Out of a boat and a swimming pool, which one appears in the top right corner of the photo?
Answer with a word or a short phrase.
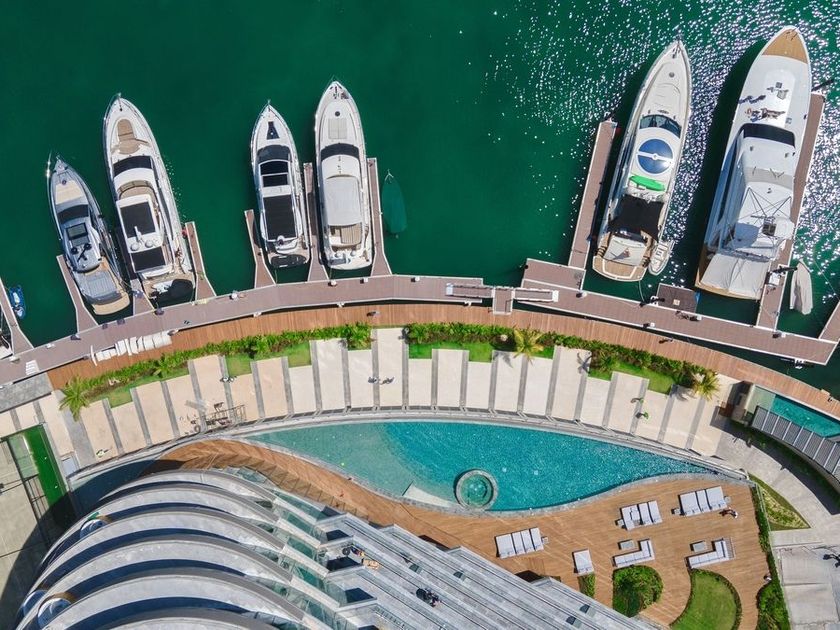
boat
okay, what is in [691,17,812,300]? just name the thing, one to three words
boat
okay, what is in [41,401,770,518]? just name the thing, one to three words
swimming pool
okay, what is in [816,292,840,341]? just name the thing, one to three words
pier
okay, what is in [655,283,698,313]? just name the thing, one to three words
pier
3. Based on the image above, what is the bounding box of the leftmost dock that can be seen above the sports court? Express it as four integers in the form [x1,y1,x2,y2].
[0,264,38,354]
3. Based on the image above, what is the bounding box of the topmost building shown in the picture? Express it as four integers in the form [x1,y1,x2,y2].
[718,382,754,427]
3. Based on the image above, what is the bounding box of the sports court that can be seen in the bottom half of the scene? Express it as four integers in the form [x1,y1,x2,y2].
[0,425,75,562]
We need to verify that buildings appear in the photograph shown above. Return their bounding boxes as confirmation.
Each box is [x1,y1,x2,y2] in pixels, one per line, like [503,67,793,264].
[718,382,754,427]
[11,468,653,630]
